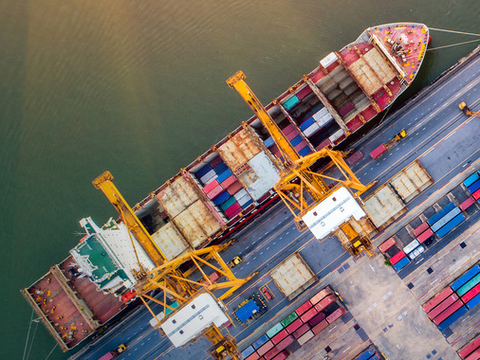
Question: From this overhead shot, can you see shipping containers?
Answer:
Yes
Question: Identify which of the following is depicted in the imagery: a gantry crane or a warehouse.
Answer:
gantry crane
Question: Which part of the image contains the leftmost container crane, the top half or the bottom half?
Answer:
bottom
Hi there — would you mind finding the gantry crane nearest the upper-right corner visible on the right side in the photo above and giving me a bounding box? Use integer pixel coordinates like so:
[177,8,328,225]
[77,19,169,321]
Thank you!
[228,74,380,263]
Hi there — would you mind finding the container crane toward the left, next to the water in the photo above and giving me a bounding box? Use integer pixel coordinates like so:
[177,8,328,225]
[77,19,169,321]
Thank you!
[93,175,262,360]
